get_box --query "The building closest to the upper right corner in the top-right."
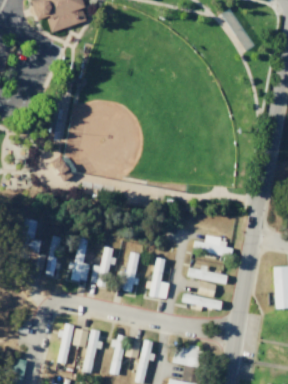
[224,10,254,50]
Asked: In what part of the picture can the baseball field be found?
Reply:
top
